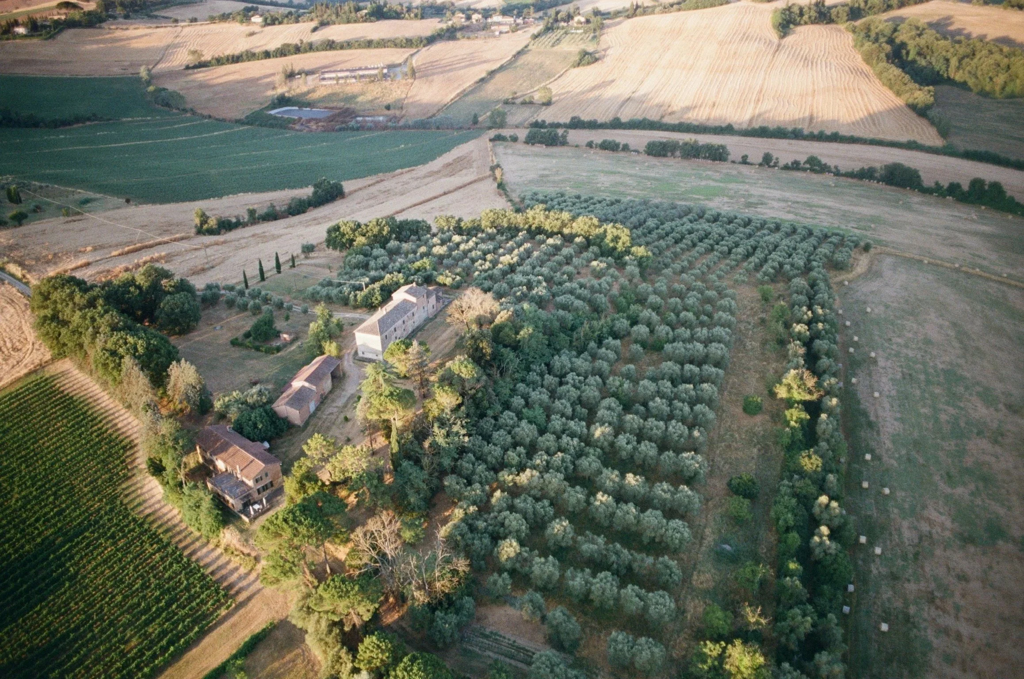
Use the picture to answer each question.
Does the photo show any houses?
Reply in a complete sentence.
Yes, there is a house in the image.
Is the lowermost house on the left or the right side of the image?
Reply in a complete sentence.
It is on the left.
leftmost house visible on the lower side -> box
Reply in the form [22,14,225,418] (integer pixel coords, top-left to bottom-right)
[197,422,284,524]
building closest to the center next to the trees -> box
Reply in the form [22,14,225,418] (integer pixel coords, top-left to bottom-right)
[353,276,457,363]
